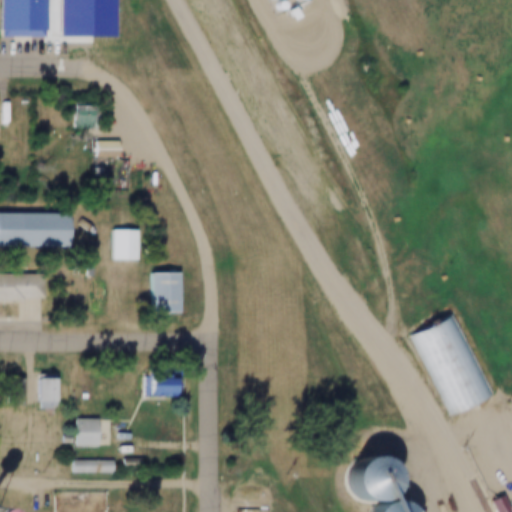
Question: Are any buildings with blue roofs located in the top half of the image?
Yes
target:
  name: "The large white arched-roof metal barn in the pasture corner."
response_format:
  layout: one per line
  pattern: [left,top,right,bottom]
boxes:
[412,314,492,416]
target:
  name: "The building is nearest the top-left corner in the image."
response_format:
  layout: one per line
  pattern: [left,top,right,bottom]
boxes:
[2,0,48,37]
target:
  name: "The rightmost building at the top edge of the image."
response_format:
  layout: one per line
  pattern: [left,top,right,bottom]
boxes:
[62,0,119,37]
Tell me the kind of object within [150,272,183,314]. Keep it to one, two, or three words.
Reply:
building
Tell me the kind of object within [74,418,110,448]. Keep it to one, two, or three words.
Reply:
house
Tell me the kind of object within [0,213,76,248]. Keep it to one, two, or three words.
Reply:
shed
